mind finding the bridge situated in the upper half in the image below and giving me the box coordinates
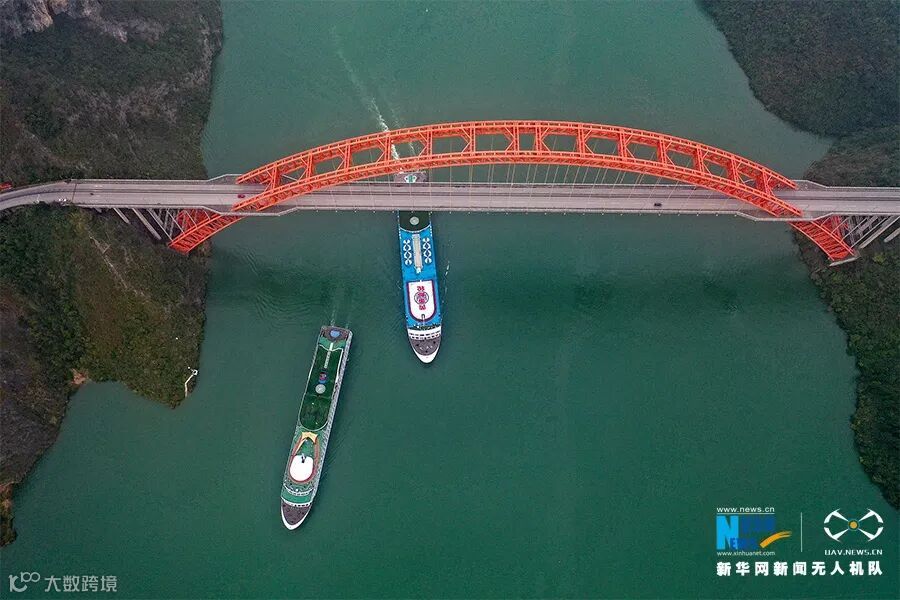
[72,120,900,264]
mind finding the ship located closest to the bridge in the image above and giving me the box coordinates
[398,210,440,363]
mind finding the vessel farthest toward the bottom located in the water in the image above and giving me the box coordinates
[283,327,352,530]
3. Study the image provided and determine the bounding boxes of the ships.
[398,210,440,363]
[283,327,352,530]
